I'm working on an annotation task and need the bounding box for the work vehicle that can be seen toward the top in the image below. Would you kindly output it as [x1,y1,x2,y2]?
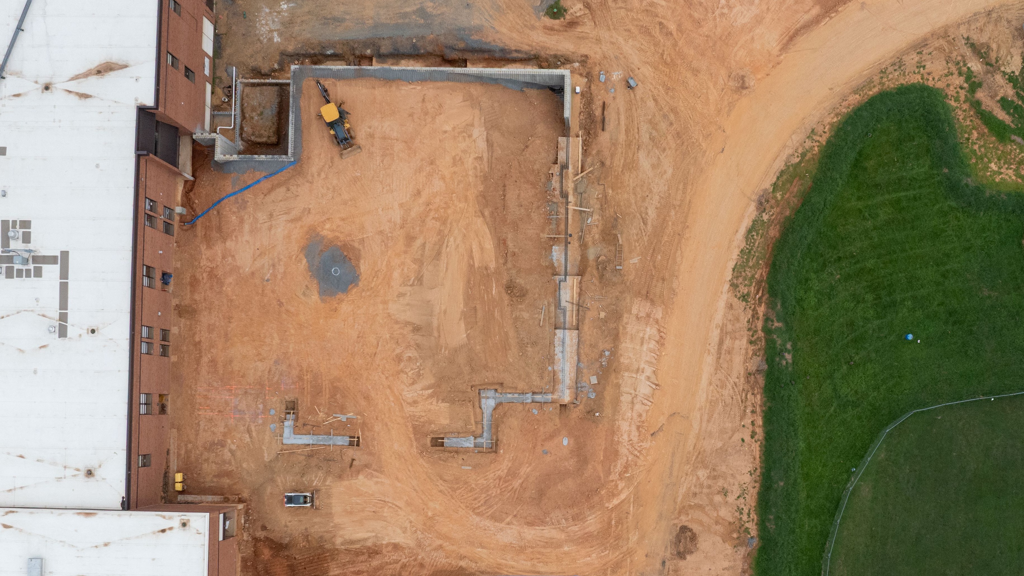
[313,79,365,160]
